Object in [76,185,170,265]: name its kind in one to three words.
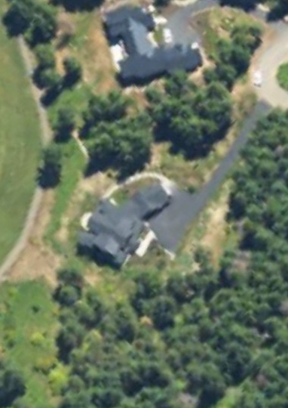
house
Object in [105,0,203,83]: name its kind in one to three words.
house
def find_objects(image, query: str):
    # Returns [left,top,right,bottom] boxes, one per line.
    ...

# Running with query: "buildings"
[105,0,203,83]
[76,185,170,265]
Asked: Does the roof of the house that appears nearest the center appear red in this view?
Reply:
No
